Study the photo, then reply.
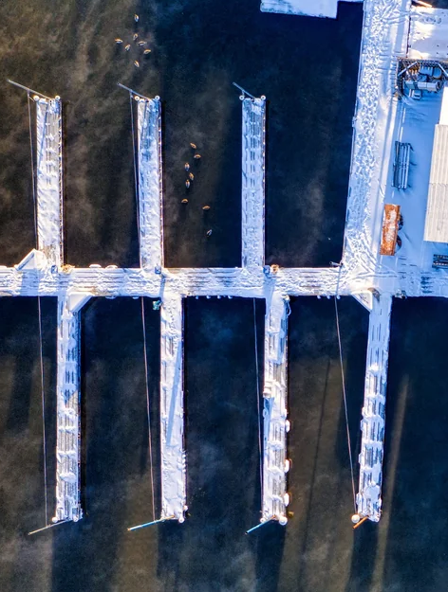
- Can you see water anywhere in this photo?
Yes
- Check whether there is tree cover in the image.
No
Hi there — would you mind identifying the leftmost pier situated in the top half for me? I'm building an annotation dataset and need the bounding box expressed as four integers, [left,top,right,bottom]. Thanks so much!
[33,95,66,266]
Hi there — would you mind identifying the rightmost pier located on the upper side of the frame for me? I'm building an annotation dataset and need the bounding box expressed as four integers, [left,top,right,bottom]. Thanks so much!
[238,95,269,268]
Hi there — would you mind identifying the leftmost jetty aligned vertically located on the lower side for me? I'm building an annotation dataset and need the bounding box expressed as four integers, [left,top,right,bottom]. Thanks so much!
[52,296,84,522]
